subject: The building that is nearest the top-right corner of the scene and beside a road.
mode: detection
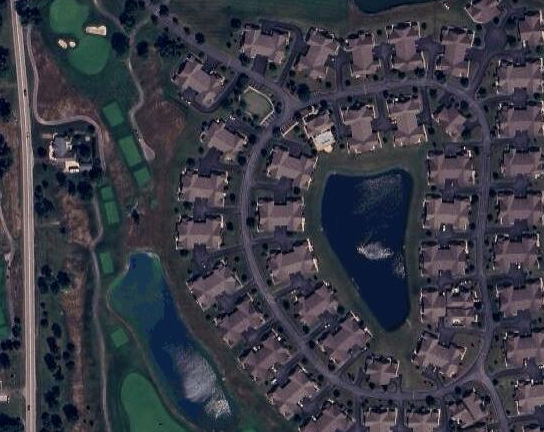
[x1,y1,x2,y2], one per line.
[515,11,544,45]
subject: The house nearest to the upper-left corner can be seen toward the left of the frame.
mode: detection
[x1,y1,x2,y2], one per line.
[48,136,74,158]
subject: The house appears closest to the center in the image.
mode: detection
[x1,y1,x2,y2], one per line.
[256,197,307,234]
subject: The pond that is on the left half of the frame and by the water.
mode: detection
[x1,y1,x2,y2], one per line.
[108,252,231,432]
